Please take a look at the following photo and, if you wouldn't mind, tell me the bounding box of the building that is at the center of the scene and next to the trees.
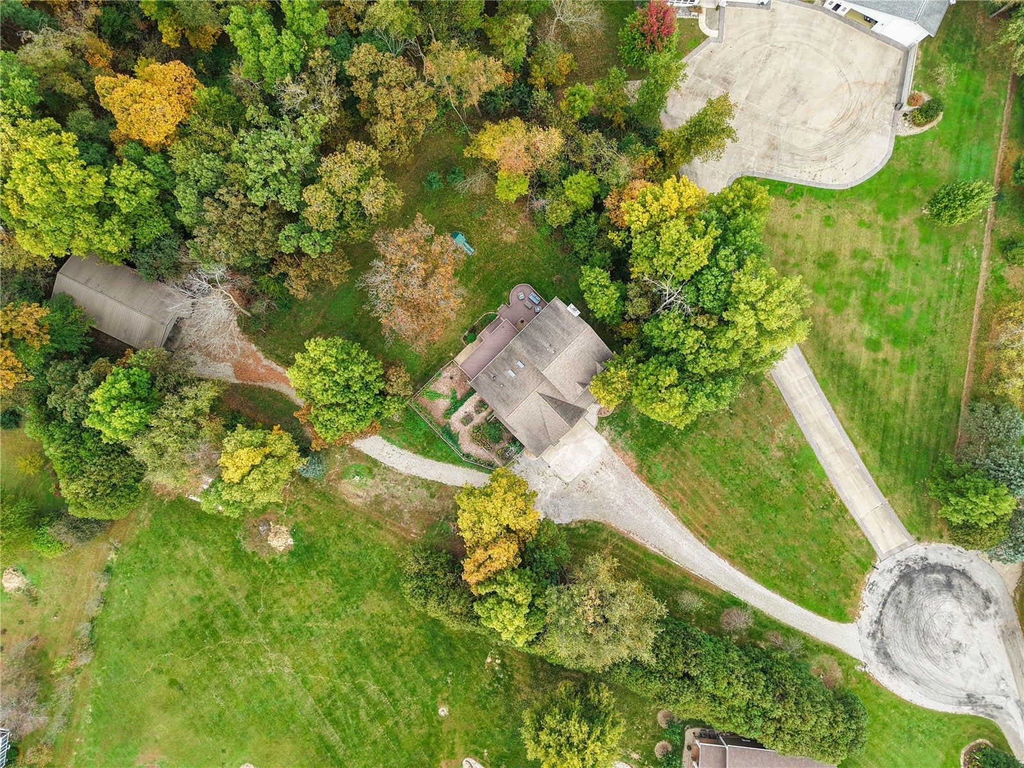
[468,297,616,455]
